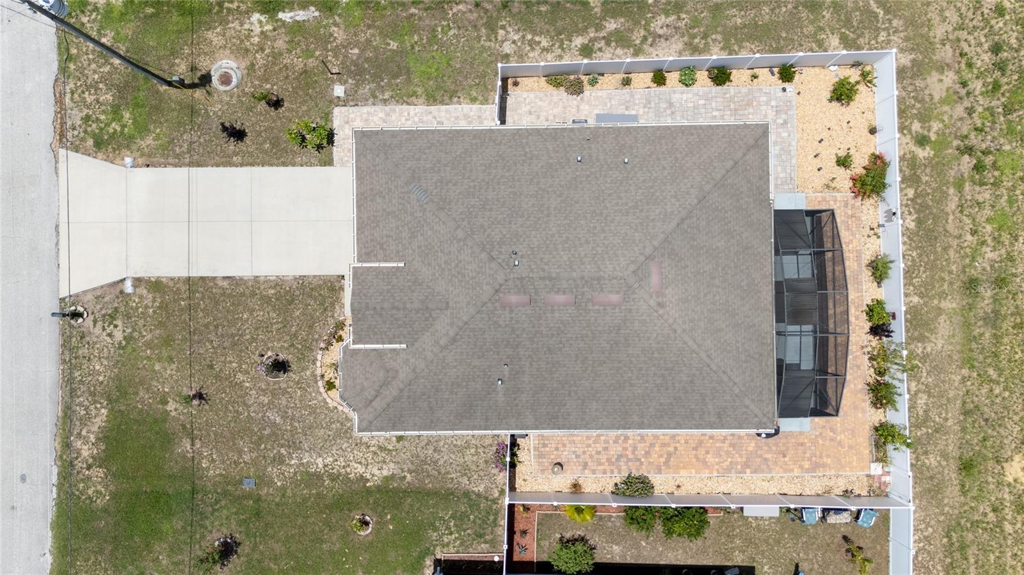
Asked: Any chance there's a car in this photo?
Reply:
No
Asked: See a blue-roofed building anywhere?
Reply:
No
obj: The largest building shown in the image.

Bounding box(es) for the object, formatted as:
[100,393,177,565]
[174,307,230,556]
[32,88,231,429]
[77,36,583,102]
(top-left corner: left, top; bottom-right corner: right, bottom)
[336,119,779,436]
